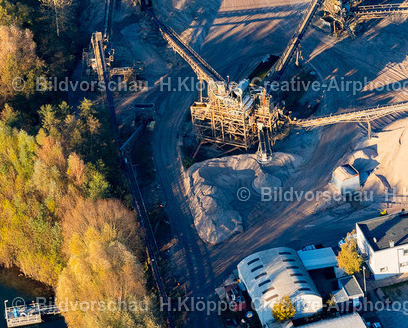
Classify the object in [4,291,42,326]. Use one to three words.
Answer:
pier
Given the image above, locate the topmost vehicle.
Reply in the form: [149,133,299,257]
[324,231,356,249]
